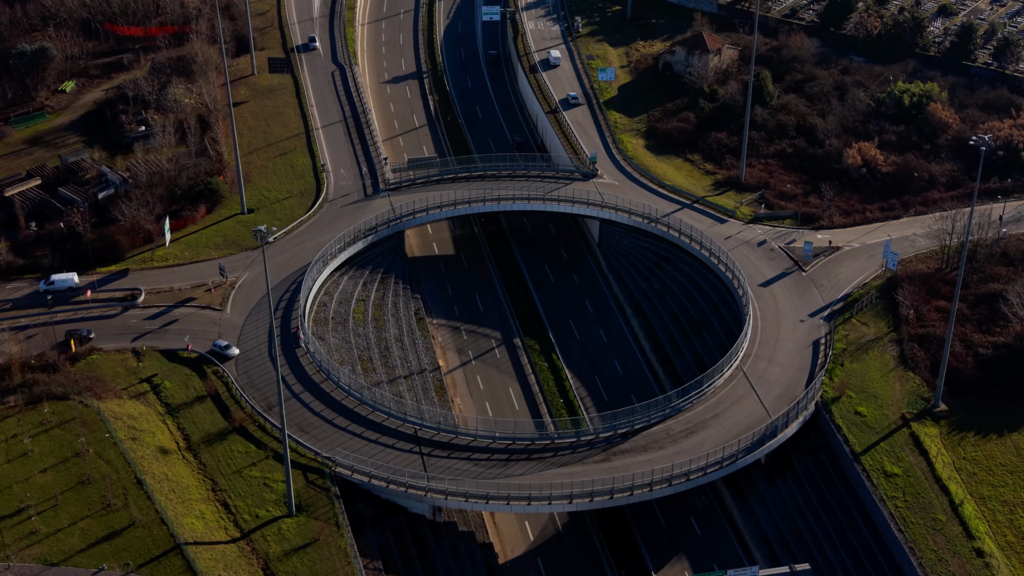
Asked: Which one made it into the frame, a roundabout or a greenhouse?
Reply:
roundabout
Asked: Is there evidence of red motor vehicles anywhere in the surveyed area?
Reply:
No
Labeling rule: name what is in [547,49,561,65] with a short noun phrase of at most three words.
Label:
vehicle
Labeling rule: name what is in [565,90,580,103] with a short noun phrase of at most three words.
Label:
vehicle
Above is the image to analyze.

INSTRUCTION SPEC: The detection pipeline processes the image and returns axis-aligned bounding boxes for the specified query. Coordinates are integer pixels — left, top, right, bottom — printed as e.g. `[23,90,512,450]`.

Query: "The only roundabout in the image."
[219,173,831,497]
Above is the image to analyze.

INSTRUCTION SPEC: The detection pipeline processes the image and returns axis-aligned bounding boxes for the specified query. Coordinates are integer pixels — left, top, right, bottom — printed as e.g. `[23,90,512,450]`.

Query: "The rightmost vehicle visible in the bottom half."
[210,340,241,362]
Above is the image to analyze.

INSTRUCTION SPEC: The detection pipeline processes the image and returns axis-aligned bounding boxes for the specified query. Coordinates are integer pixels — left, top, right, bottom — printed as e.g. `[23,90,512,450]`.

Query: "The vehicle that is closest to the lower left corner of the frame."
[59,330,98,348]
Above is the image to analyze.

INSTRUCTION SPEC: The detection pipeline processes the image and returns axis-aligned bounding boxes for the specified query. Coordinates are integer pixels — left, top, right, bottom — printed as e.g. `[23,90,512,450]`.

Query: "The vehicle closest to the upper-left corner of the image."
[39,273,80,296]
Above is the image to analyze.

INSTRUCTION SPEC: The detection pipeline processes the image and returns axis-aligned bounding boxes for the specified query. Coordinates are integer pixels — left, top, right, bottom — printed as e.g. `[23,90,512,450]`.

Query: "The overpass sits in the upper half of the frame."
[388,170,607,224]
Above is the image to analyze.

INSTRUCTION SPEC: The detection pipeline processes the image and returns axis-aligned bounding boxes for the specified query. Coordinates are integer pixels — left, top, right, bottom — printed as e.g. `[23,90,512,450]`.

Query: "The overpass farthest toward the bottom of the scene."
[330,334,832,522]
